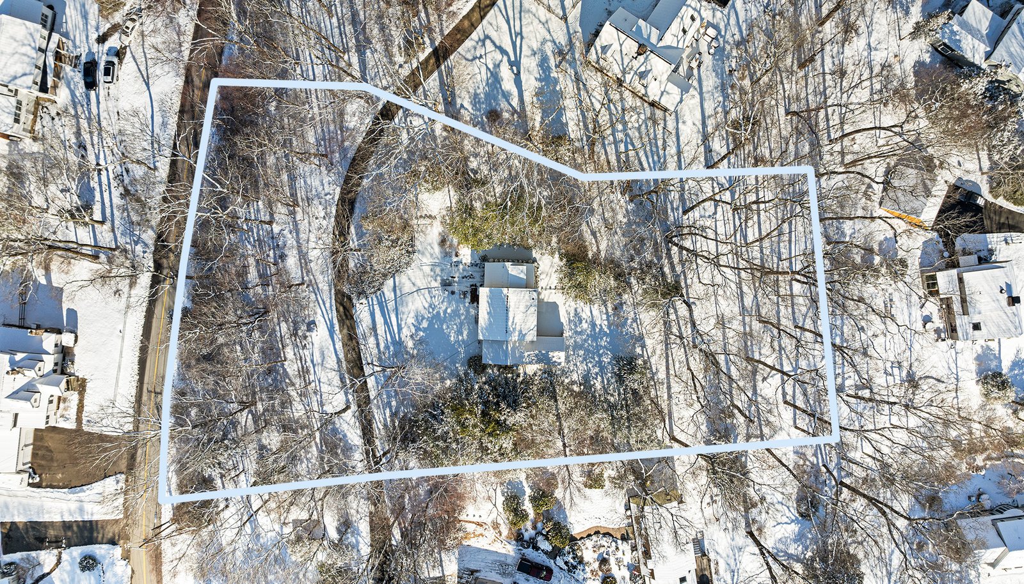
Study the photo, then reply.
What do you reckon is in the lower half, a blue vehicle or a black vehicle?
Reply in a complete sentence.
It is a black vehicle that can be seen in the lower half.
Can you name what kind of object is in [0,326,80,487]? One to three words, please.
house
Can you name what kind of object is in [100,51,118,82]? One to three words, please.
car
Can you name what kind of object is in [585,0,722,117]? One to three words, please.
house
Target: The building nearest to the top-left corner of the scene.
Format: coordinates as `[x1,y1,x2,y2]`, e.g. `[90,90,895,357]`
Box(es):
[0,0,83,141]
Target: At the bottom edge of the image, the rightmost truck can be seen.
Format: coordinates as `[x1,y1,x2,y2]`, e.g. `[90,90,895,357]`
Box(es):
[516,555,555,582]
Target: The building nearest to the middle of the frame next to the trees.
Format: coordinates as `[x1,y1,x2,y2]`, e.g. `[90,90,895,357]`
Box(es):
[477,262,565,365]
